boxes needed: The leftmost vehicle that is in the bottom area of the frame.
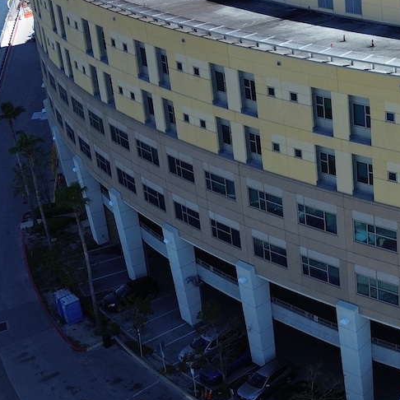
[101,263,168,304]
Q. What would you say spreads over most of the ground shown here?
buildings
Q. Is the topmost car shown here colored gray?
No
